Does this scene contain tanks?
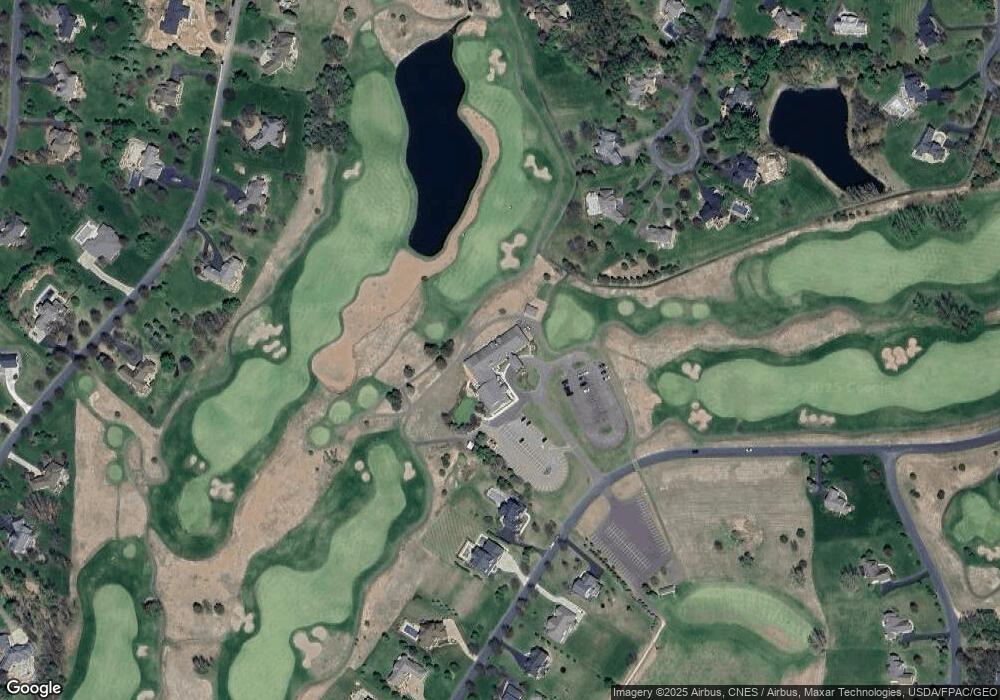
No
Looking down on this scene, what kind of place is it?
golf course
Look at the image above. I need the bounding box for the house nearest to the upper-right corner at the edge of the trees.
[915,16,942,55]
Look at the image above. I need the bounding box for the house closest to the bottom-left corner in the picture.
[0,632,33,689]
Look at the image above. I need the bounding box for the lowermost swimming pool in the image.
[400,621,420,638]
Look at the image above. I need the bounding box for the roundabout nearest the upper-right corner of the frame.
[652,97,696,171]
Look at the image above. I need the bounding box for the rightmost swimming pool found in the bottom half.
[460,540,475,559]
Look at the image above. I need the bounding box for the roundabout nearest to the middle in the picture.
[510,360,542,393]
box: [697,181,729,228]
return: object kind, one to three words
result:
house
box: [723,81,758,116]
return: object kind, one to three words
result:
house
